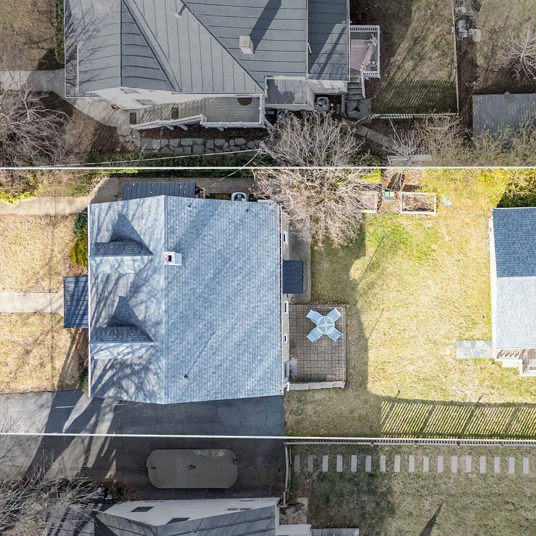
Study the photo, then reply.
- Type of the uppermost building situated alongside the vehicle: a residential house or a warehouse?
residential house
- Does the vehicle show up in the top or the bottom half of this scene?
bottom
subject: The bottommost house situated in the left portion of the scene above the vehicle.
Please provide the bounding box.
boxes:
[62,181,309,405]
